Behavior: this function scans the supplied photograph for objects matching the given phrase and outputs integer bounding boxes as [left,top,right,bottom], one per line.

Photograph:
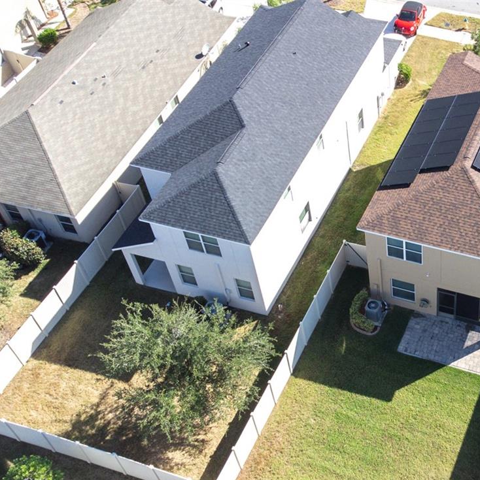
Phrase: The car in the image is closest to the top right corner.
[395,0,431,34]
